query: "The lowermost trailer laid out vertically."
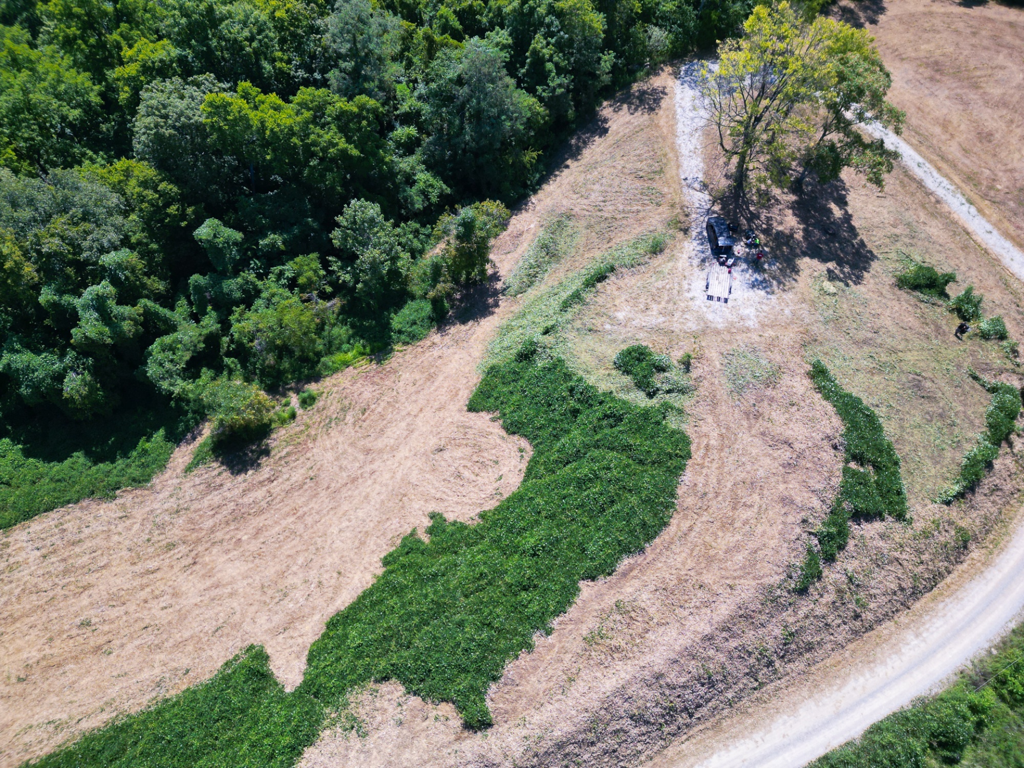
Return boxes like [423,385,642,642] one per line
[705,256,734,315]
